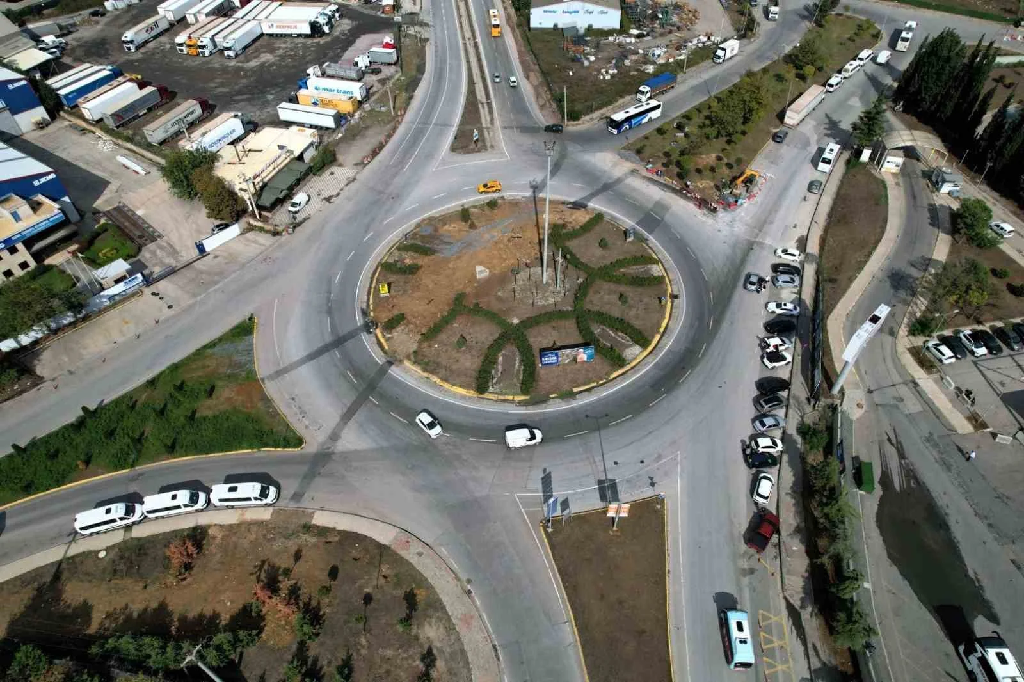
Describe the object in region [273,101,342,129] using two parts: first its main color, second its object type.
white trailer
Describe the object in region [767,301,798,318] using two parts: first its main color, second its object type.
white car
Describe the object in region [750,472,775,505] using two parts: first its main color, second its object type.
white car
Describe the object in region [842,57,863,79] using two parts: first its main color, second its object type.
white vehicle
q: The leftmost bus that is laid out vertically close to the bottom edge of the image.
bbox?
[723,602,753,674]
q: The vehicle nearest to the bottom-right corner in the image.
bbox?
[963,639,1022,682]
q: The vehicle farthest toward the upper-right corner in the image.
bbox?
[897,23,916,46]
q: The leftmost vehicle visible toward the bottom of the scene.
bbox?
[73,506,144,539]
